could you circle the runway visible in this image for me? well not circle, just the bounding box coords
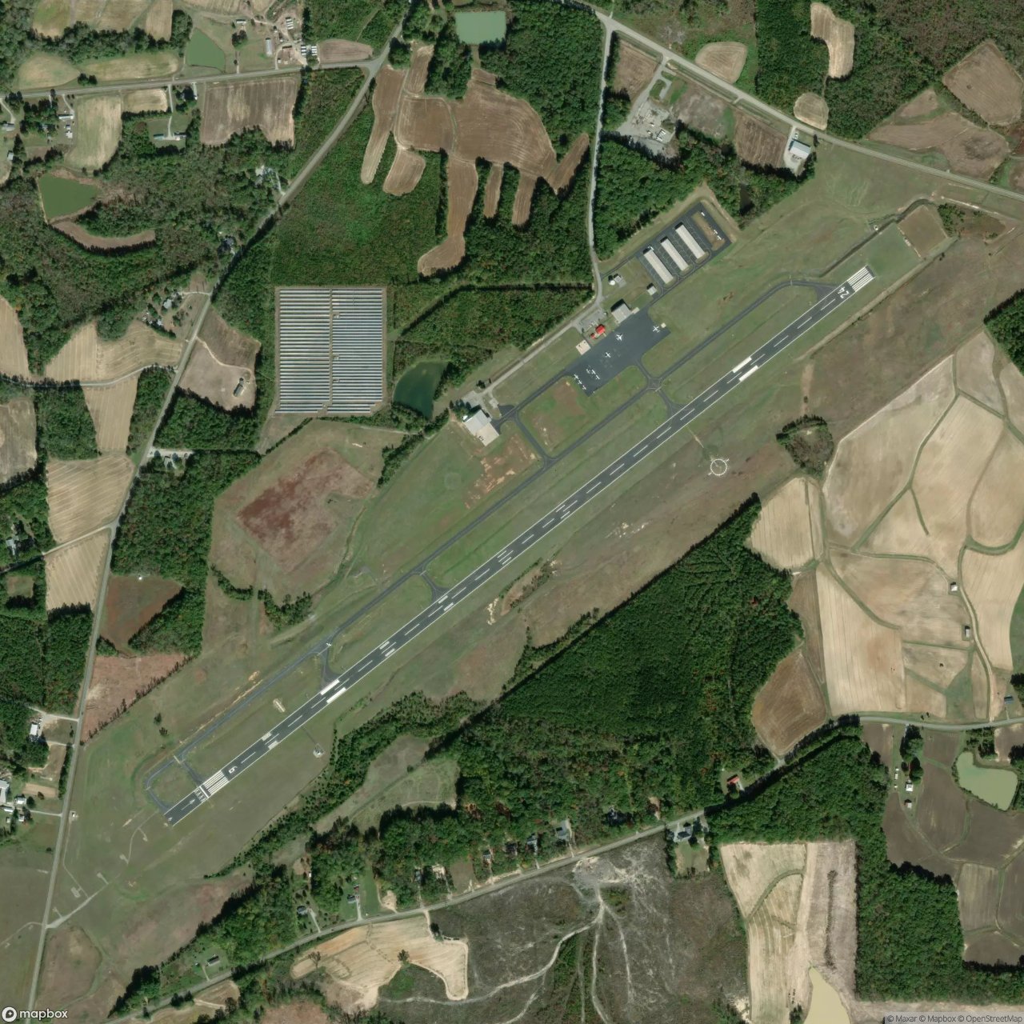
[164,264,877,826]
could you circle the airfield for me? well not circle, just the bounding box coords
[147,203,877,826]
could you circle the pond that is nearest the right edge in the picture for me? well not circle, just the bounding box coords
[957,752,1016,809]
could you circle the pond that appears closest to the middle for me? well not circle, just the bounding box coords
[392,361,447,418]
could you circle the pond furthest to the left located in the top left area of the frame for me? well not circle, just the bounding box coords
[38,175,98,218]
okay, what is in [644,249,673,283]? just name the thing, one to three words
hangar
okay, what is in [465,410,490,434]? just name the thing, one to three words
hangar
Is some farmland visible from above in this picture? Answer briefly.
Yes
